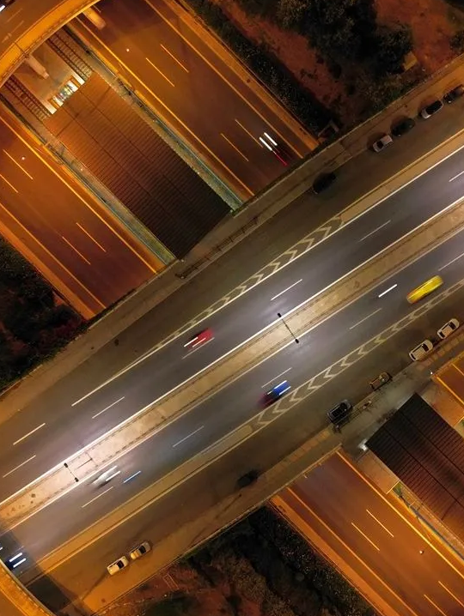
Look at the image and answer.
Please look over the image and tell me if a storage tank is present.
No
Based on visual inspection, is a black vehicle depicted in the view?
Yes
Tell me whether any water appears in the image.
No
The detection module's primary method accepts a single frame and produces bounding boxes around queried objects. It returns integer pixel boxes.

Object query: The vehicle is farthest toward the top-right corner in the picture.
[441,85,464,106]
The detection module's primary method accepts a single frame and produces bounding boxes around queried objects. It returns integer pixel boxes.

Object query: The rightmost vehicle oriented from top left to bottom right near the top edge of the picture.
[83,5,110,31]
